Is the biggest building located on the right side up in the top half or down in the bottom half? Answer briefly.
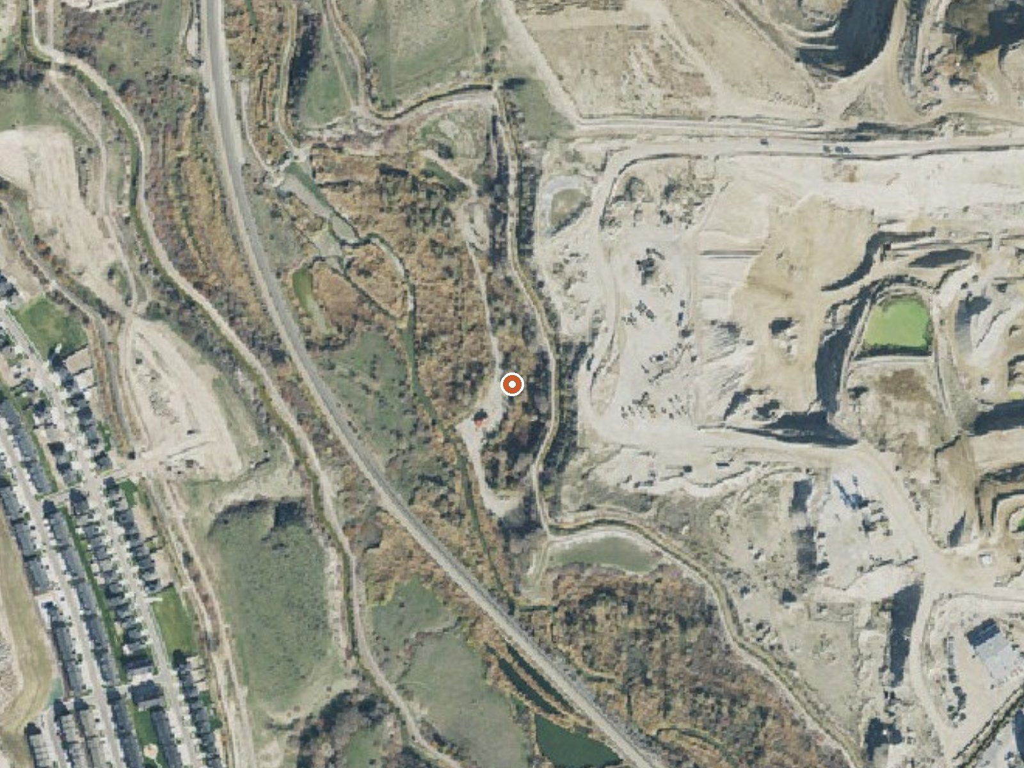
bottom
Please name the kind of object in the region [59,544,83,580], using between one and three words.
house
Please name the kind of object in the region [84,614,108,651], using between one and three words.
house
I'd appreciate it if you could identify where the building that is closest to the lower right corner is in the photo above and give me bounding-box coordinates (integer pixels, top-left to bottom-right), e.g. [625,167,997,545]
[971,627,1012,669]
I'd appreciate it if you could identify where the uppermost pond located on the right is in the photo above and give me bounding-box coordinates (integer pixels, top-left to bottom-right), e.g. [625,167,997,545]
[864,297,930,348]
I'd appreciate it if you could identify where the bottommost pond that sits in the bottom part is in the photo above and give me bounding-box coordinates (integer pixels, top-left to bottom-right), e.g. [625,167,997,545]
[536,715,620,768]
